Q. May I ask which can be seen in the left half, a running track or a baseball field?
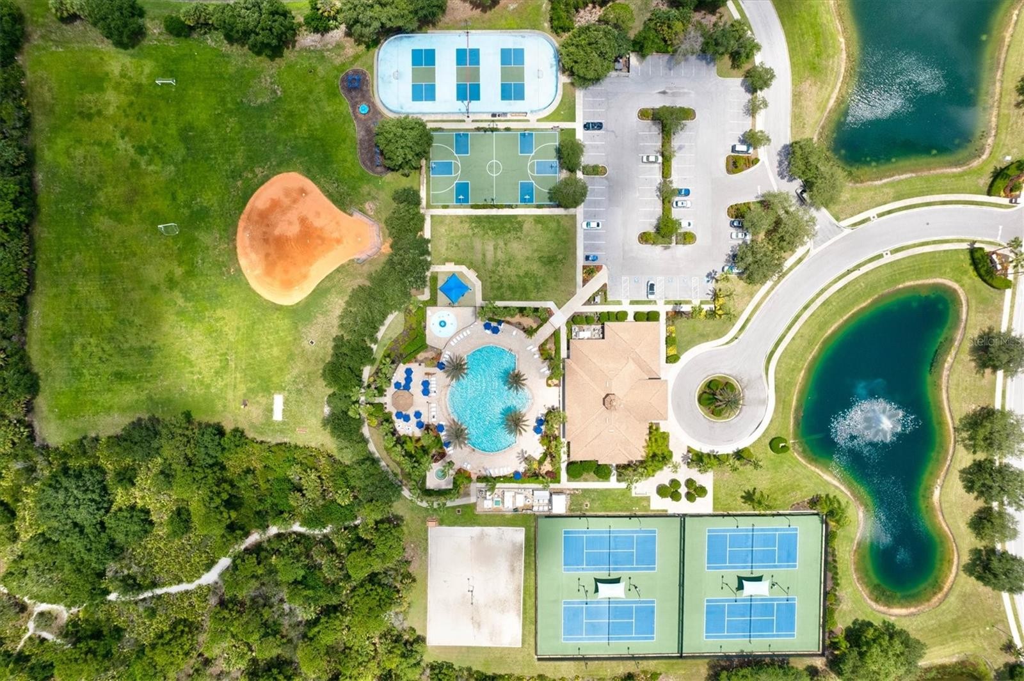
baseball field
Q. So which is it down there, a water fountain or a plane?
water fountain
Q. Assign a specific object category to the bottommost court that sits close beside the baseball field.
basketball court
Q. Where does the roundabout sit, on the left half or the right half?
right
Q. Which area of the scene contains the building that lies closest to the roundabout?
center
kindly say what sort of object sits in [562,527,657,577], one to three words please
tennis court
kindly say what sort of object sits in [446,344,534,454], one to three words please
swimming pool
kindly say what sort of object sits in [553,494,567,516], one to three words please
shed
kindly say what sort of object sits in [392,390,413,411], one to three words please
gazebo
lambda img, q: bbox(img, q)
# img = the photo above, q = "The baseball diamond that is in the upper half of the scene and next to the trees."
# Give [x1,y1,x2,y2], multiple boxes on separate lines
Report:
[237,172,380,305]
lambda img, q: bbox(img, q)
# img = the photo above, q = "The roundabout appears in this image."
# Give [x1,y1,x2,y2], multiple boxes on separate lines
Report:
[672,350,767,445]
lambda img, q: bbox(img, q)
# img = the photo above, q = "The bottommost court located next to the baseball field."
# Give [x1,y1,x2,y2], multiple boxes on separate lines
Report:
[429,130,559,205]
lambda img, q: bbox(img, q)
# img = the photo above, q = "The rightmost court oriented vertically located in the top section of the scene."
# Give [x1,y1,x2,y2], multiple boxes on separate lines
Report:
[501,48,524,100]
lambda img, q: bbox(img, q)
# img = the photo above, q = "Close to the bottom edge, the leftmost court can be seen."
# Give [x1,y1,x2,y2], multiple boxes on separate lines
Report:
[427,527,525,647]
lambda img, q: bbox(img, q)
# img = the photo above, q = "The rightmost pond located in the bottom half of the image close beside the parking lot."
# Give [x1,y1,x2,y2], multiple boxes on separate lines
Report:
[792,281,964,613]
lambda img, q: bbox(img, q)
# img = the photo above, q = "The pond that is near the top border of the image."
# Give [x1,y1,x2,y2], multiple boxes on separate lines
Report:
[815,0,1018,183]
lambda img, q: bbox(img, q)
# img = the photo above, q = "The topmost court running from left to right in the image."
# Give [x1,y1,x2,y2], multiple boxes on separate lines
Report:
[377,31,559,113]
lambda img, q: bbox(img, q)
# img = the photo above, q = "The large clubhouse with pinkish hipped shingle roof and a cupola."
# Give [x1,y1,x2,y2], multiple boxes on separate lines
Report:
[565,322,667,464]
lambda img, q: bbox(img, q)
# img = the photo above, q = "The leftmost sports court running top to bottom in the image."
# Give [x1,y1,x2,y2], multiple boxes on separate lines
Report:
[412,49,435,101]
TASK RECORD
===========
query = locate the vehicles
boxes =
[585,255,598,261]
[723,264,743,273]
[647,280,656,298]
[672,188,690,196]
[732,144,752,153]
[672,199,691,208]
[731,231,750,240]
[582,221,601,229]
[584,122,603,130]
[728,219,748,228]
[642,154,662,163]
